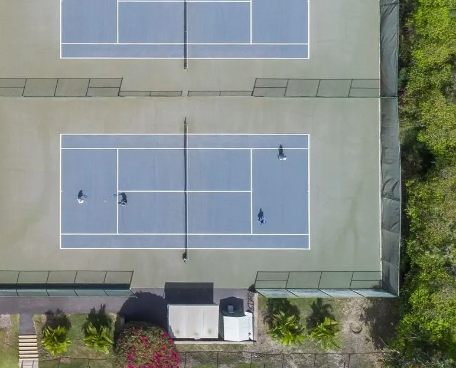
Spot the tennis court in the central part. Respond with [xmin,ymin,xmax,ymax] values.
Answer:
[0,97,382,289]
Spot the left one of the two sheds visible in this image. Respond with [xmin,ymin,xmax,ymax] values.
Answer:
[164,300,219,339]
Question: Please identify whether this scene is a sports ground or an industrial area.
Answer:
sports ground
